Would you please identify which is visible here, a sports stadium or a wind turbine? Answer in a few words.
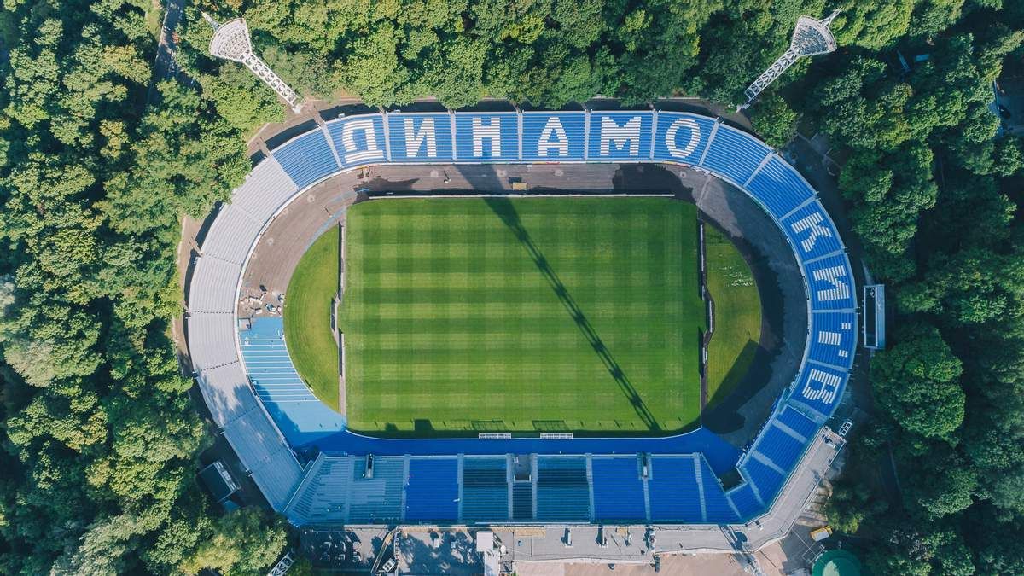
sports stadium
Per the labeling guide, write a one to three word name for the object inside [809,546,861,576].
building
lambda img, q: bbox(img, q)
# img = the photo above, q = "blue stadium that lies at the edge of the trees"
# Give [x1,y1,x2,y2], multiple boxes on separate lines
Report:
[170,94,869,528]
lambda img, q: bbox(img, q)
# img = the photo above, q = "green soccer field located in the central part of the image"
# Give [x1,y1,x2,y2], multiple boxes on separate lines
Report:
[284,197,761,438]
